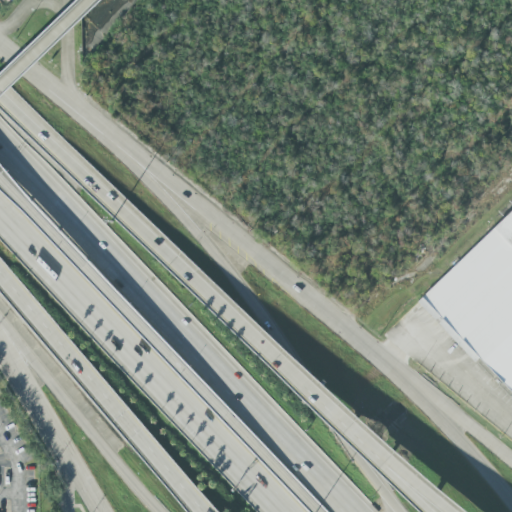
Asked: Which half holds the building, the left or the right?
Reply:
right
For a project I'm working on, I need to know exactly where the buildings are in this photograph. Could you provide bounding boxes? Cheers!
[418,212,512,392]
